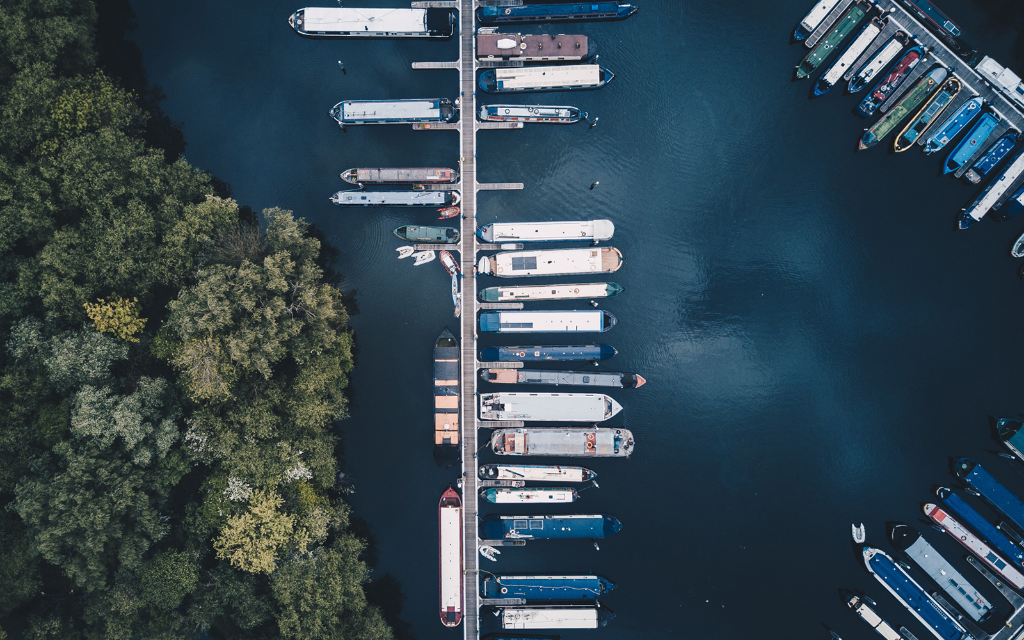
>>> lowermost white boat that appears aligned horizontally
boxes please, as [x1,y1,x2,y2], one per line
[481,601,616,629]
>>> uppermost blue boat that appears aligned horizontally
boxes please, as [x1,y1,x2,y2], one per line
[477,1,639,26]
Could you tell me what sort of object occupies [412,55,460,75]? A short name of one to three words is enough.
pier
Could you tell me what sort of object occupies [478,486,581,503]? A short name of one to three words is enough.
boat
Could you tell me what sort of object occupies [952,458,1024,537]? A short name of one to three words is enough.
boat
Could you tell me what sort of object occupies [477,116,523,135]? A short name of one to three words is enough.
pier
